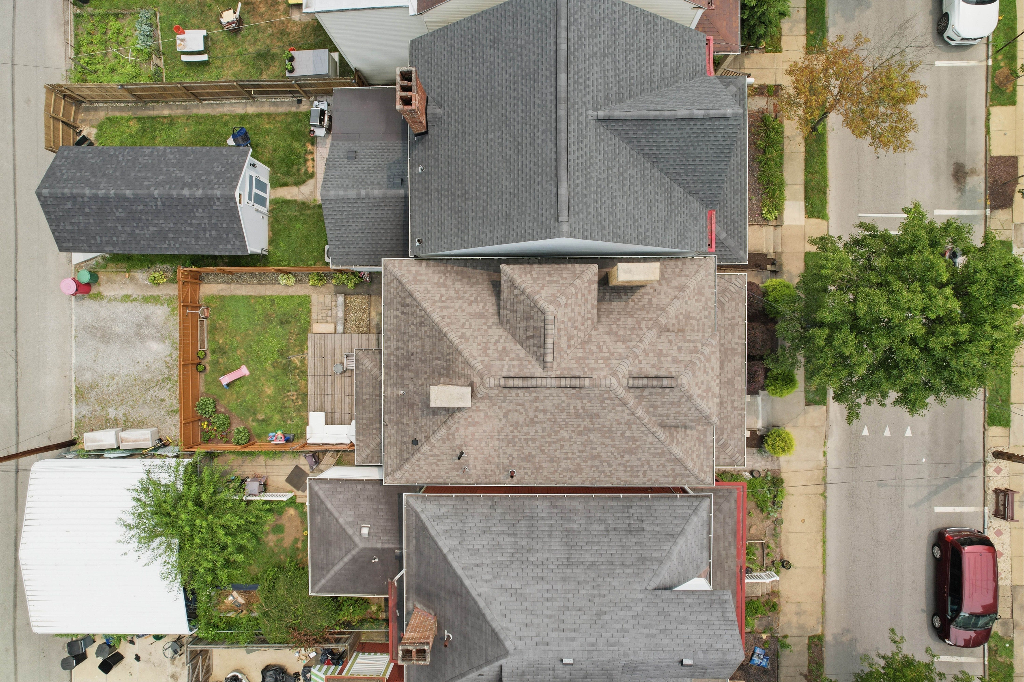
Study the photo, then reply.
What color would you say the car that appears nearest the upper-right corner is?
white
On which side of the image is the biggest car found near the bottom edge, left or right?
right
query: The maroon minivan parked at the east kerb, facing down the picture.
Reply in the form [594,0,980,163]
[927,526,996,648]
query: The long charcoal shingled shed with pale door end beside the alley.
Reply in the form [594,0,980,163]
[36,145,278,256]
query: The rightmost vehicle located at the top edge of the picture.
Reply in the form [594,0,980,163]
[932,0,997,49]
